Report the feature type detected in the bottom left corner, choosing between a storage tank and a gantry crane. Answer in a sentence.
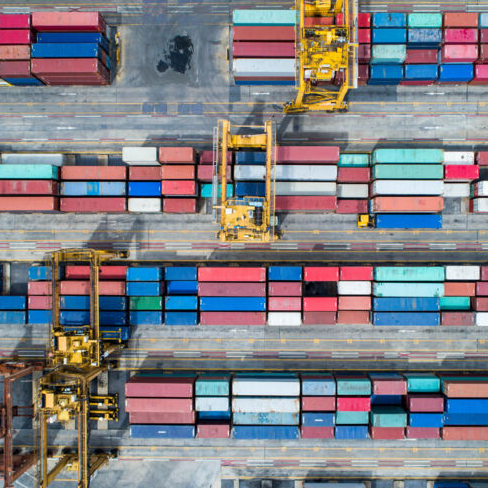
Looking in the bottom left corner, you will find a gantry crane.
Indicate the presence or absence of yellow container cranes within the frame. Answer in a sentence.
Yes, a yellow container crane appears in the view.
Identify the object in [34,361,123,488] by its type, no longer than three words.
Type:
container crane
